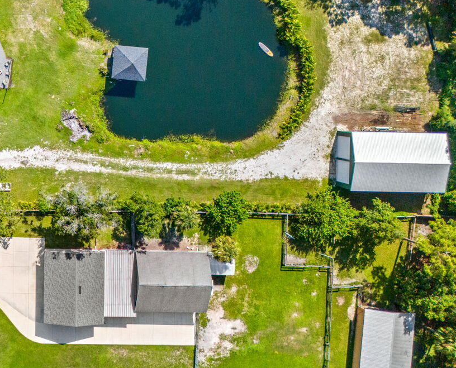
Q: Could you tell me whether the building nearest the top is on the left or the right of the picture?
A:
left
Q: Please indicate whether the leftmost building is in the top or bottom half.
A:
bottom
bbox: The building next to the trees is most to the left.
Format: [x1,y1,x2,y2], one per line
[42,249,104,327]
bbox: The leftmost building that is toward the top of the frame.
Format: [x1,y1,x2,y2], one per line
[110,45,149,81]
